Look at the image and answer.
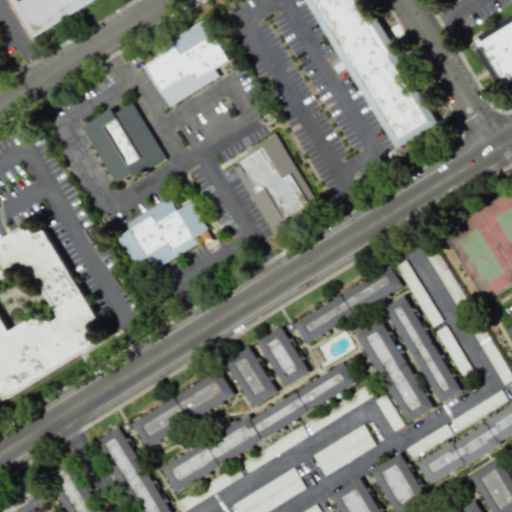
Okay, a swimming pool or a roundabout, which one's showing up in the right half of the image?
swimming pool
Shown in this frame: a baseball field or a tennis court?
tennis court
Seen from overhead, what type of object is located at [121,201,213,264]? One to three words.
building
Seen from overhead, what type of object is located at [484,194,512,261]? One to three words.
tennis court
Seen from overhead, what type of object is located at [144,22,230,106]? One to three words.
building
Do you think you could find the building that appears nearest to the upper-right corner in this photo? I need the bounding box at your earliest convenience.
[478,24,512,80]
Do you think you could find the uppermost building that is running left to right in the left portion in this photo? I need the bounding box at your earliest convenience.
[10,0,96,38]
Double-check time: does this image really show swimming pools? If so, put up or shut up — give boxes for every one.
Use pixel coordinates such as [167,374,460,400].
[320,331,356,368]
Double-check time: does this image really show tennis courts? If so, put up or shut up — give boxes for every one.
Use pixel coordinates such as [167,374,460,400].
[451,214,512,297]
[484,194,512,261]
